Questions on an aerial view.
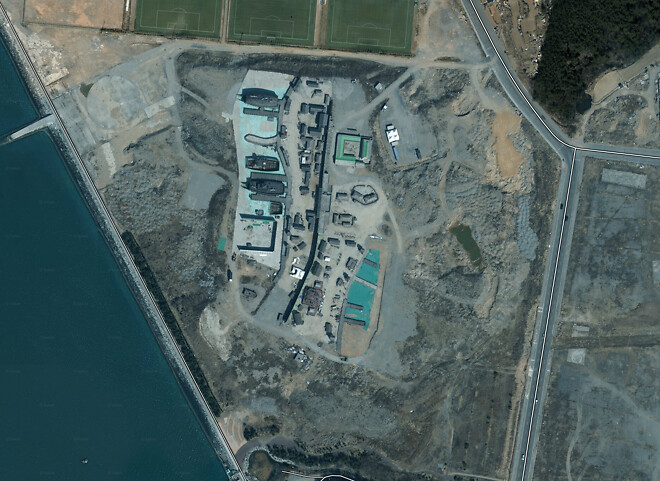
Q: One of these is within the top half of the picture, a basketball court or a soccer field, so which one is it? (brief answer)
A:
soccer field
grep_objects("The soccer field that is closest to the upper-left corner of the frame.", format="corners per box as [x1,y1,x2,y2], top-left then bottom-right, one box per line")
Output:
[134,0,222,39]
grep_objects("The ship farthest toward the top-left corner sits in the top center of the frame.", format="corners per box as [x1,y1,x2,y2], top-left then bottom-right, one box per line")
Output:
[241,90,280,108]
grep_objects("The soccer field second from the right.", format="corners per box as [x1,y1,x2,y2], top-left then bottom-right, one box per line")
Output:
[228,0,316,46]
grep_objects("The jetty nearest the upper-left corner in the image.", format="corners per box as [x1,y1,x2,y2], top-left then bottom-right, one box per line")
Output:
[0,115,53,146]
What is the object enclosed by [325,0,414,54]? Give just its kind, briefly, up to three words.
soccer field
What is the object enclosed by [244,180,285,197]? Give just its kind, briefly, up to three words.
ship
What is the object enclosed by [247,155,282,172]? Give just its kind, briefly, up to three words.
ship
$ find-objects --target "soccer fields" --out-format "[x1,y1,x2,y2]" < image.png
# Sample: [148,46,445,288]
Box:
[134,0,222,39]
[325,0,414,54]
[228,0,316,46]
